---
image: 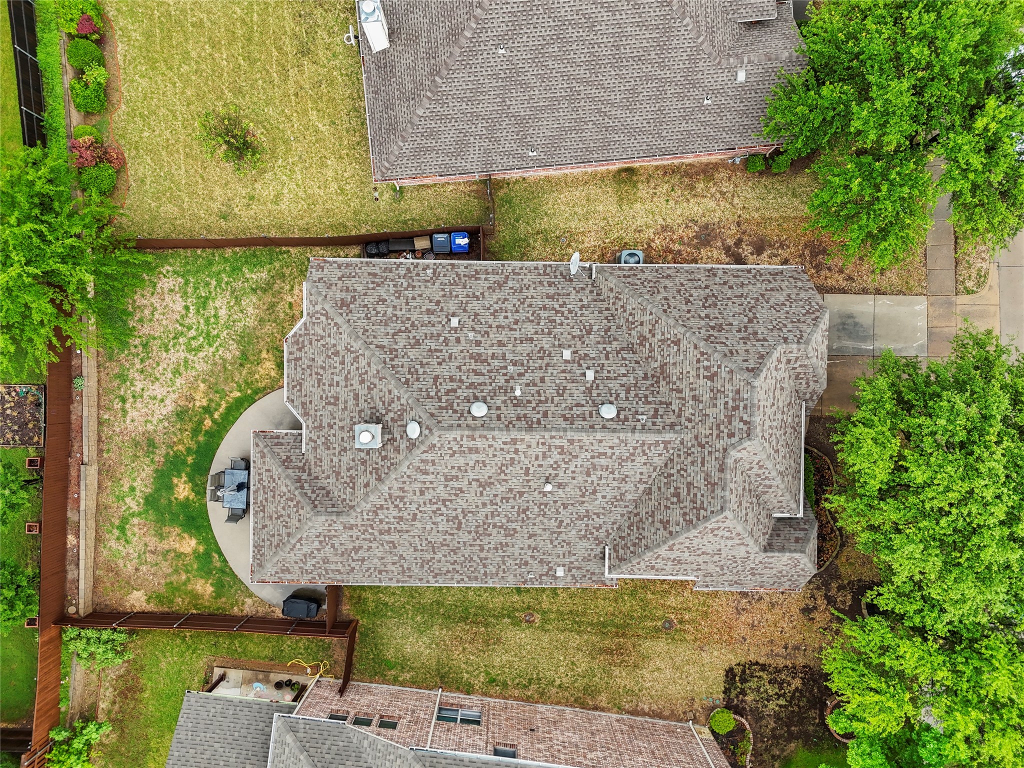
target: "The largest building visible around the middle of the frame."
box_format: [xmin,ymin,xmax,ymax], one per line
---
[250,258,829,591]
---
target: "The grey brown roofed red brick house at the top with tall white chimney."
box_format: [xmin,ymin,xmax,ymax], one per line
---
[359,0,810,190]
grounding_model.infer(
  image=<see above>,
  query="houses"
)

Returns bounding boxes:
[250,258,829,591]
[359,0,810,190]
[167,673,731,768]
